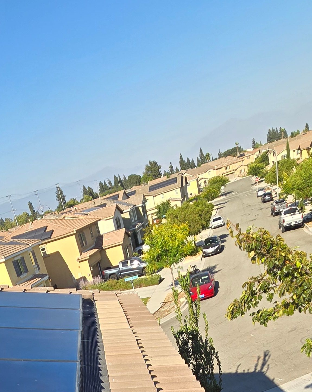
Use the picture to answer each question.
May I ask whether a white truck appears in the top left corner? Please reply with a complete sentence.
No, no white truck appears in the top left corner.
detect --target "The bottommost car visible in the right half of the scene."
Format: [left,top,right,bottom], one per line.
[189,262,223,296]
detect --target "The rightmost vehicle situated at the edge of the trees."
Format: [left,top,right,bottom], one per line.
[277,203,306,232]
